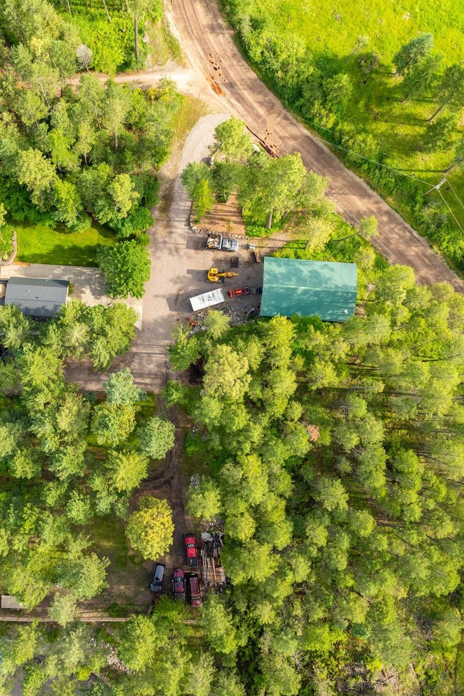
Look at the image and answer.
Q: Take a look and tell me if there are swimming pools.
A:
No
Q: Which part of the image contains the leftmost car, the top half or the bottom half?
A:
bottom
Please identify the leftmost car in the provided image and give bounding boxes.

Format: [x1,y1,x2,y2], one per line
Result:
[147,562,167,593]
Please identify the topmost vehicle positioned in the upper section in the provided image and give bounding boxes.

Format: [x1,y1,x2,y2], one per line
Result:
[206,234,239,252]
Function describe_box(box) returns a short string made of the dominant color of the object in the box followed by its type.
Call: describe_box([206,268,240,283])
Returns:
yellow work vehicle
